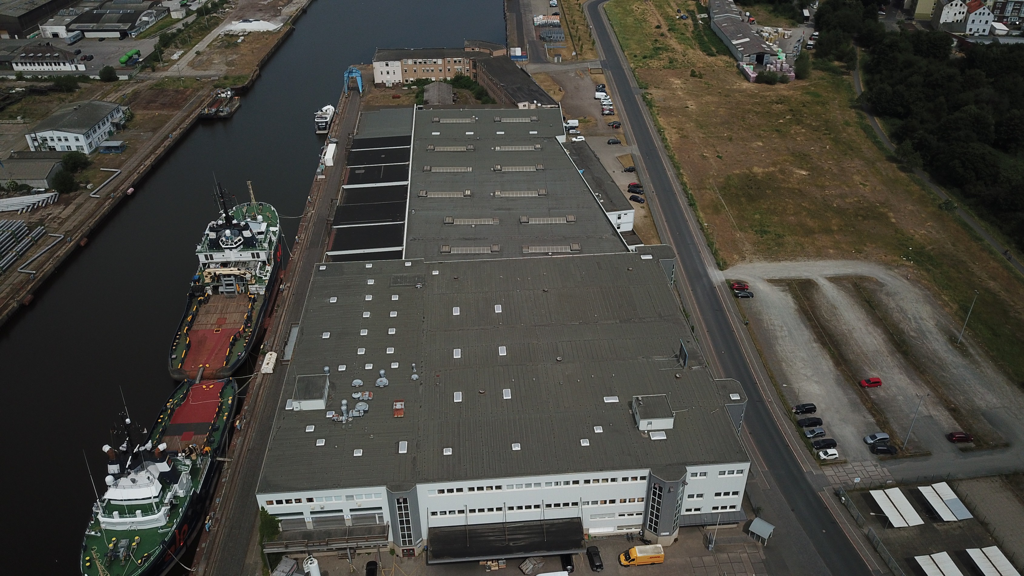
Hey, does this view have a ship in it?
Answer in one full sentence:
Yes, looking at the shot, I can spot a ship.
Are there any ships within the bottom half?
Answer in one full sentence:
Yes, looking within the bottom half, one can make out a ship.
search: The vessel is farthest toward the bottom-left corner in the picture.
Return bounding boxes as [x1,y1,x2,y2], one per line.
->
[78,378,240,576]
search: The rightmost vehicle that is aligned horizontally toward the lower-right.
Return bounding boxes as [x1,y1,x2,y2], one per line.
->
[946,429,976,444]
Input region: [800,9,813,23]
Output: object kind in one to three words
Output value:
vehicle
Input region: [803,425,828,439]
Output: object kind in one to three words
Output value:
car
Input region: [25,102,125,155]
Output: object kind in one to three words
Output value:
building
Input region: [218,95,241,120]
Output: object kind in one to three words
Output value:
ship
